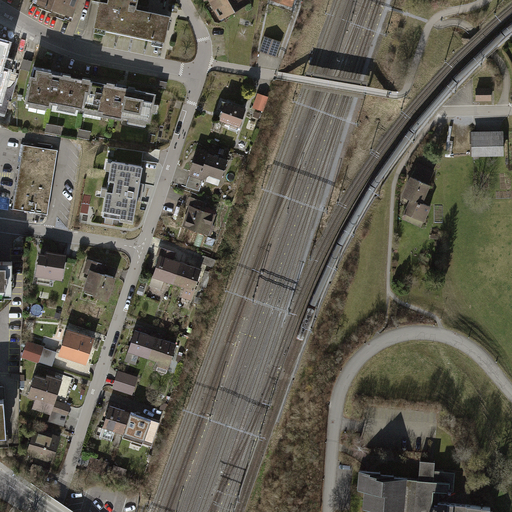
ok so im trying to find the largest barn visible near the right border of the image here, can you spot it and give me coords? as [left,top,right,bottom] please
[471,130,504,158]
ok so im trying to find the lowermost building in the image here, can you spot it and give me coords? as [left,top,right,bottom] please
[357,473,406,512]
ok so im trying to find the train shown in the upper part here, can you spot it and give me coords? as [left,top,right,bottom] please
[298,20,512,338]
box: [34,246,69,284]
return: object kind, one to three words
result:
house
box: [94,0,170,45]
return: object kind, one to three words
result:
building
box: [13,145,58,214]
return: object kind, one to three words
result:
building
